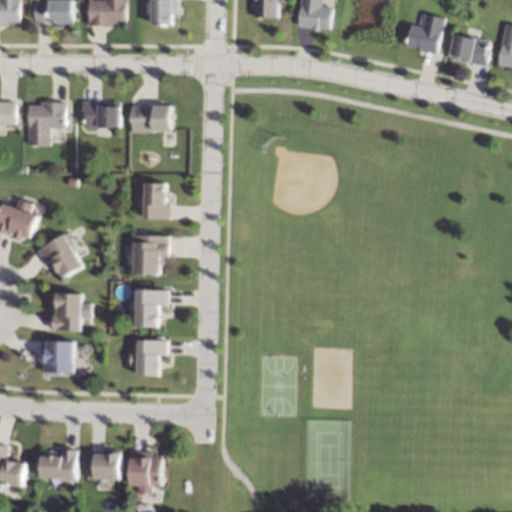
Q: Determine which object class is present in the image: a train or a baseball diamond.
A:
baseball diamond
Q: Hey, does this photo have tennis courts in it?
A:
Yes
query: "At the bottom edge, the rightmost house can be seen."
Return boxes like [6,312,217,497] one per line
[124,456,162,490]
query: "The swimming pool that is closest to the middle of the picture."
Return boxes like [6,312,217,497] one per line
[116,286,130,300]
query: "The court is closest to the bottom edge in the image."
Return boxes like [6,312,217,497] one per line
[306,420,352,502]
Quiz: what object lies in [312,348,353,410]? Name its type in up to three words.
sports court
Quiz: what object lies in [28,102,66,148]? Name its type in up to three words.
house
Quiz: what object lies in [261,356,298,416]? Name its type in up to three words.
basketball court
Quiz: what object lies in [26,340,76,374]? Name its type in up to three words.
house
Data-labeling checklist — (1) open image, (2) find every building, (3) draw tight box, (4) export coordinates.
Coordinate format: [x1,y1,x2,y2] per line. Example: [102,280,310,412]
[0,0,22,26]
[26,340,76,374]
[0,102,19,136]
[136,290,174,328]
[28,102,66,148]
[150,0,178,28]
[134,236,171,276]
[0,200,36,238]
[87,0,128,27]
[34,0,74,26]
[36,450,80,480]
[406,10,450,54]
[124,456,162,490]
[0,446,24,487]
[48,294,93,332]
[260,0,282,20]
[128,104,172,134]
[144,183,174,222]
[297,0,334,32]
[90,452,122,482]
[137,340,172,378]
[450,34,488,64]
[40,234,87,281]
[80,100,122,128]
[498,22,512,66]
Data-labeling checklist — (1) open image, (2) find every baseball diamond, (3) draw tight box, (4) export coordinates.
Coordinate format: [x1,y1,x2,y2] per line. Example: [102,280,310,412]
[274,146,338,215]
